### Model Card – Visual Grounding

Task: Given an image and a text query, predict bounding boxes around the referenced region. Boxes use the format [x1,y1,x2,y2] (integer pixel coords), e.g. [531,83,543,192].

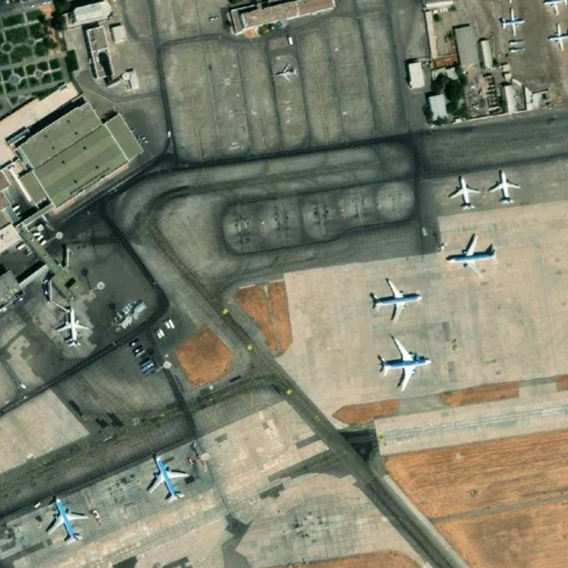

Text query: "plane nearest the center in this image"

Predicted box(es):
[372,279,421,322]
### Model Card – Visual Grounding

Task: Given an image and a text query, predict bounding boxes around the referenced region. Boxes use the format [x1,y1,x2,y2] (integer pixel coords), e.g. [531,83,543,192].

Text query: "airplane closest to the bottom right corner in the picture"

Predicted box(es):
[380,338,432,390]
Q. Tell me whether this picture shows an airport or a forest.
airport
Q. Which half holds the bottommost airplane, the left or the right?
left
